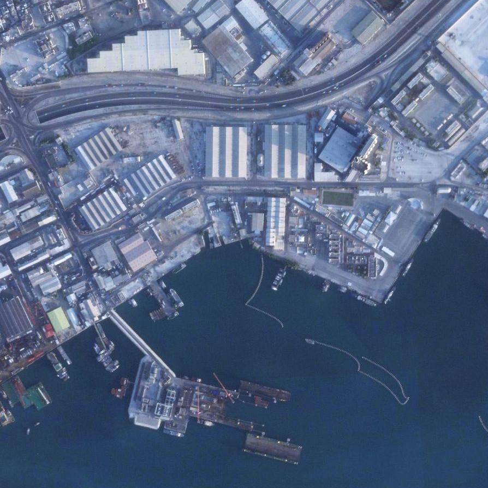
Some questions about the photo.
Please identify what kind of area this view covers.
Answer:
port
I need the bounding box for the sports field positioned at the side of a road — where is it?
[321,189,355,209]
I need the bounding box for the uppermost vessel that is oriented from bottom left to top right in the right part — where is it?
[422,218,440,243]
